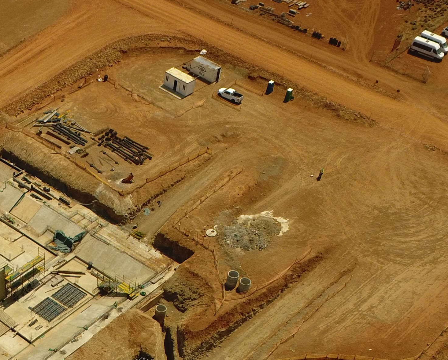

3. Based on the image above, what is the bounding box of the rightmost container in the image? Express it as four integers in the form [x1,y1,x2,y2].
[189,55,227,83]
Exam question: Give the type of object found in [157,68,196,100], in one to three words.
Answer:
shed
